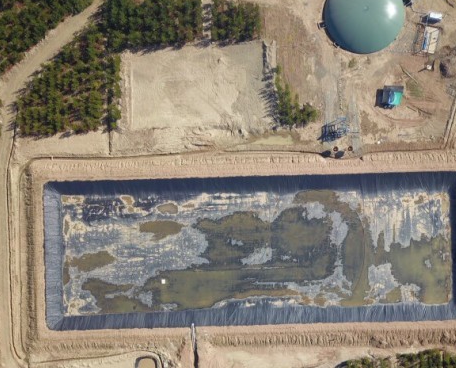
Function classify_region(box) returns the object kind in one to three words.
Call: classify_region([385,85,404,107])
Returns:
shed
